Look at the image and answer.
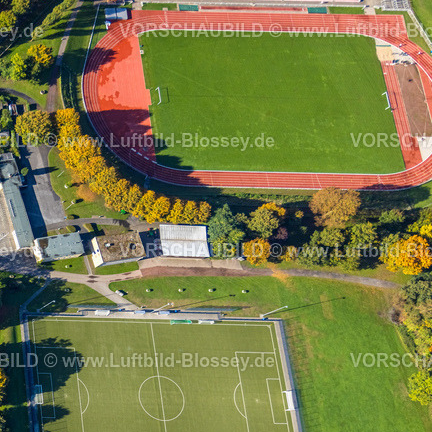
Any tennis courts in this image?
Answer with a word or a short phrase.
No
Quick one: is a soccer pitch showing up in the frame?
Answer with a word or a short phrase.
Yes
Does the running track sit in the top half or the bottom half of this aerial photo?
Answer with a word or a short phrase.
top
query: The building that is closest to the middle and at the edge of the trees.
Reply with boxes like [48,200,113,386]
[155,225,209,260]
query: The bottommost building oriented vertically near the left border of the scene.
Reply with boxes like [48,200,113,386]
[1,180,33,251]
